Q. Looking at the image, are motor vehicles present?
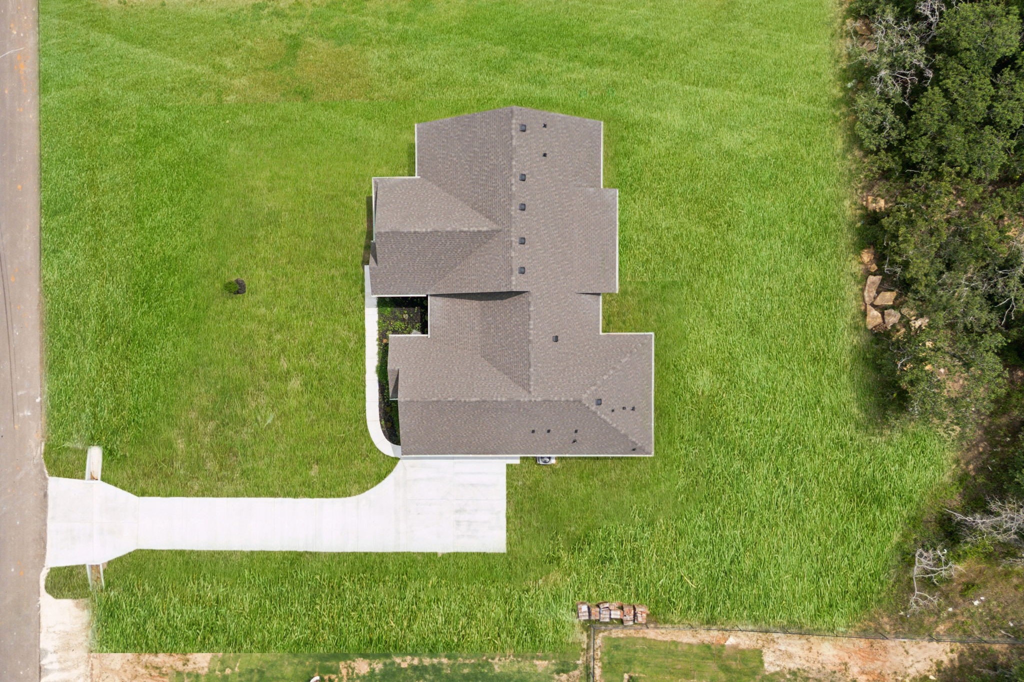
No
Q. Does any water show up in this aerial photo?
No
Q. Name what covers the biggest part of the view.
grass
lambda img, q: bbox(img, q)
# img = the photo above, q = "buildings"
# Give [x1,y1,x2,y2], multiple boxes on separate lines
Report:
[369,106,655,457]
